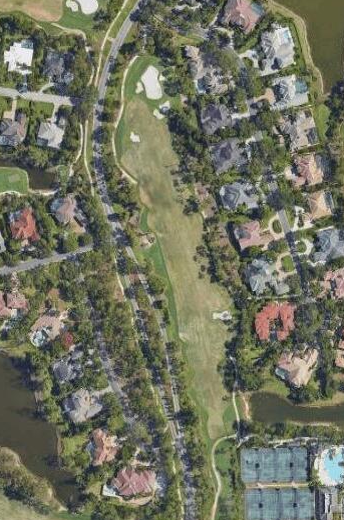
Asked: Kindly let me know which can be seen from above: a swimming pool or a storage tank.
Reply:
swimming pool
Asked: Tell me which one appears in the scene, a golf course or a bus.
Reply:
golf course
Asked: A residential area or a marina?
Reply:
residential area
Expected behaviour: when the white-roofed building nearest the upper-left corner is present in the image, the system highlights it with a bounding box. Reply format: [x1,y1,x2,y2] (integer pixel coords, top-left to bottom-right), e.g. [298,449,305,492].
[0,38,37,75]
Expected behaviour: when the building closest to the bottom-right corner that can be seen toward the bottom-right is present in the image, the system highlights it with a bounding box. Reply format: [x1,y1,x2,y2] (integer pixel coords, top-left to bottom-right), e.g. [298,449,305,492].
[313,489,330,520]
